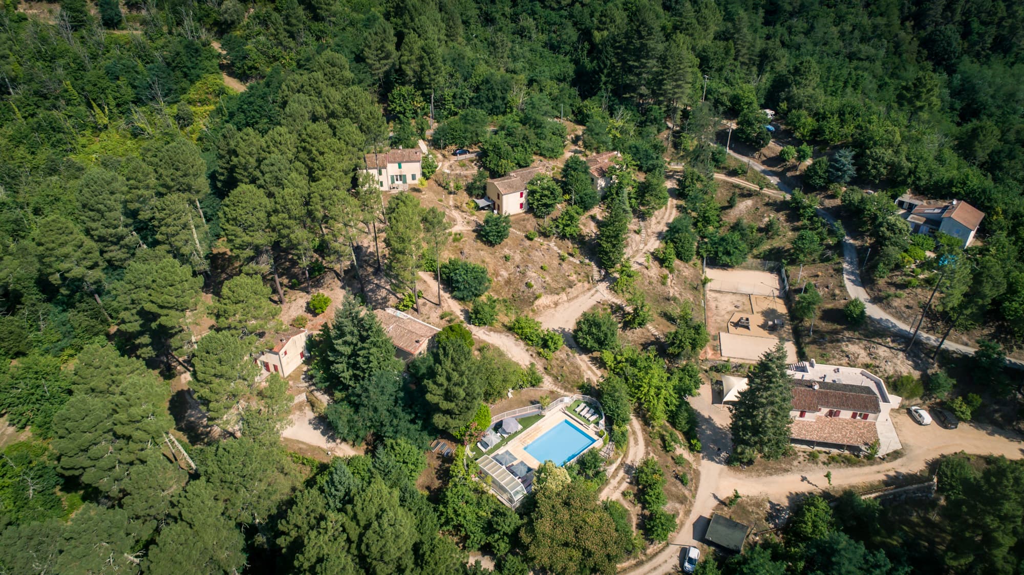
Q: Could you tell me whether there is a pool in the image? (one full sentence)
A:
Yes, this view includes a pool.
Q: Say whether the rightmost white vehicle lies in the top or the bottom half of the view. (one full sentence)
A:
You can find the rightmost white vehicle in the bottom half.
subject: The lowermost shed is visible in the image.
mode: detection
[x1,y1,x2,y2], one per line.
[704,514,748,556]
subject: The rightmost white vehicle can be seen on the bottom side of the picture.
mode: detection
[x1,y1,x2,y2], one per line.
[911,405,936,427]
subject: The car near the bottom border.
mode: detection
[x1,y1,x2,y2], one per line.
[684,544,700,574]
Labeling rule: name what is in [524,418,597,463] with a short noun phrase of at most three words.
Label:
swimming pool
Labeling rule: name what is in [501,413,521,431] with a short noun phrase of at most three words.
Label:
umbrella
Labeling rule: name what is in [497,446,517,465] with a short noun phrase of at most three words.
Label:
umbrella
